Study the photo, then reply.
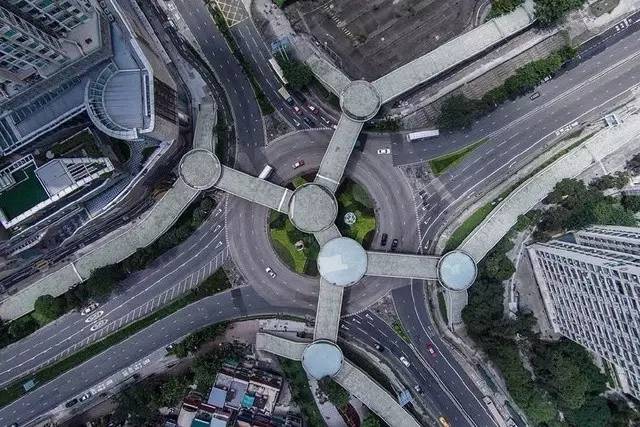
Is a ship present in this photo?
No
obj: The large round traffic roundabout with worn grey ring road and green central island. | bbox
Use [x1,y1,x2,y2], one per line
[226,128,426,320]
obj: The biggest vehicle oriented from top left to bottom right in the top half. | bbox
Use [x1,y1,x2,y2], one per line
[266,57,289,86]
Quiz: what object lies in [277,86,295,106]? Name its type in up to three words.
vehicle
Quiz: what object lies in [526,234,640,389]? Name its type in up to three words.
building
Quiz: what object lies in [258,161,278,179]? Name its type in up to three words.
vehicle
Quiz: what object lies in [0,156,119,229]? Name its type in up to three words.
building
